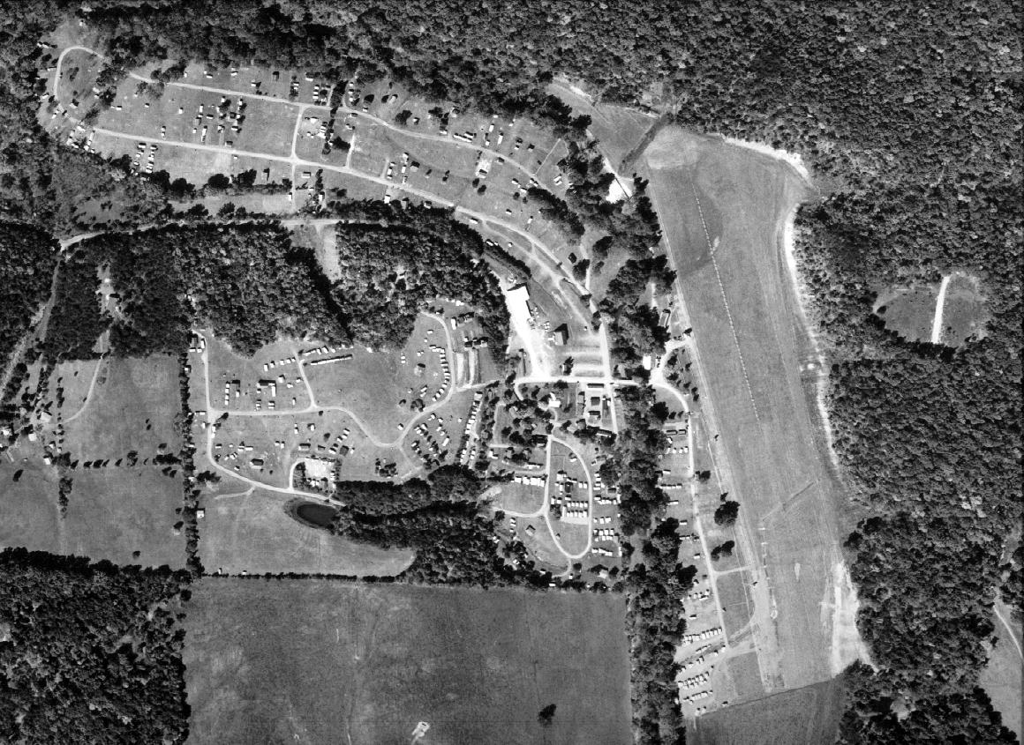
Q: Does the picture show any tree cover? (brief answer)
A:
Yes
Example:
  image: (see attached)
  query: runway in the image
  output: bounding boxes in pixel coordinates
[651,141,839,688]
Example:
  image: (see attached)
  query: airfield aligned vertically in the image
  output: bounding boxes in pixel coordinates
[651,141,839,688]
